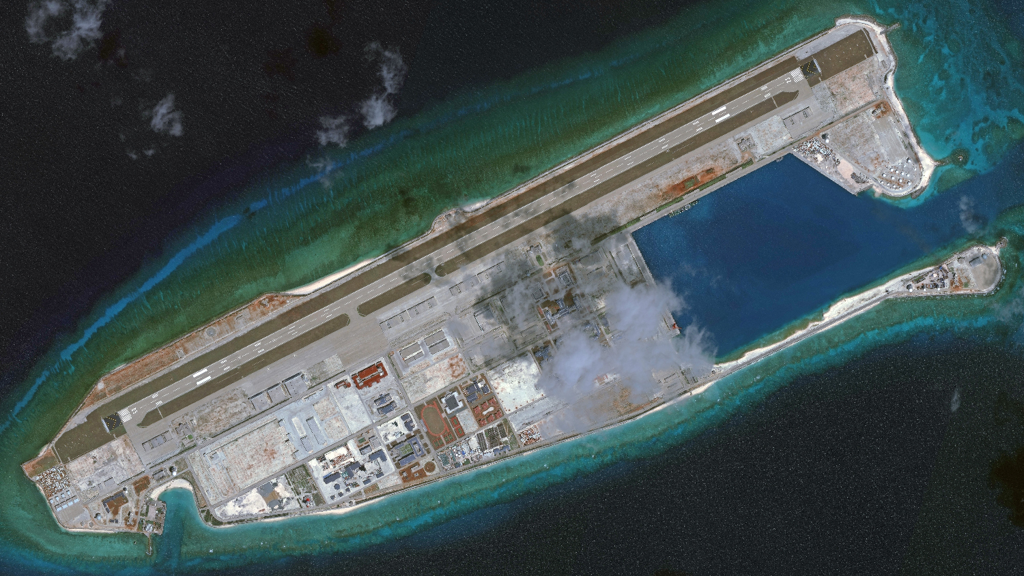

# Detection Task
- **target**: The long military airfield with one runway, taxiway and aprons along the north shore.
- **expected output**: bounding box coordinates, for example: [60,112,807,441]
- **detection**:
[54,28,875,469]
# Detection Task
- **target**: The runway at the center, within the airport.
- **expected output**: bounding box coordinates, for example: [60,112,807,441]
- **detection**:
[118,65,806,424]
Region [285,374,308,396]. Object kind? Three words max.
hangar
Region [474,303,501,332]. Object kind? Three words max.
hangar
